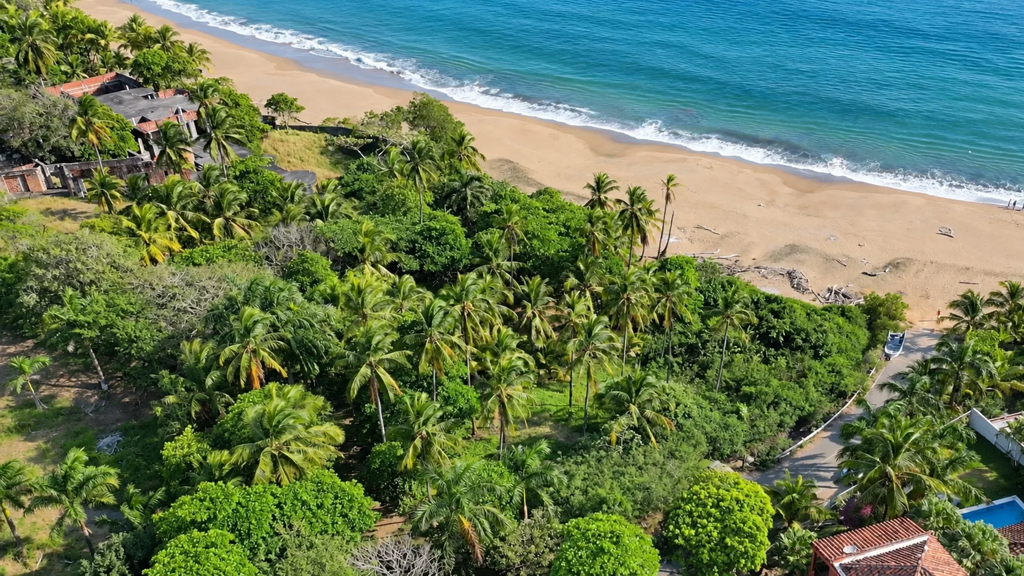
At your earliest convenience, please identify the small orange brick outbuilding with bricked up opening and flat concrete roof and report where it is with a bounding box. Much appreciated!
[0,158,59,194]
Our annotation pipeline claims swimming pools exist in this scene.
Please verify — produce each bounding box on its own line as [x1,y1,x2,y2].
[963,493,1024,536]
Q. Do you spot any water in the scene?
Yes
